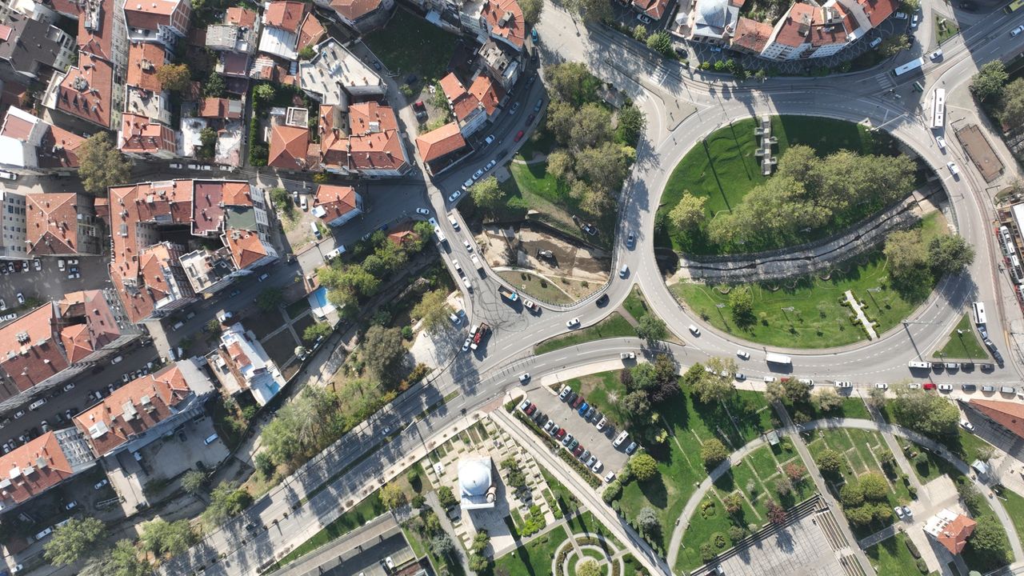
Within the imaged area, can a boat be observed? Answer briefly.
No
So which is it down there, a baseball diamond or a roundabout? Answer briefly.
roundabout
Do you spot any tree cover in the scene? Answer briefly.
Yes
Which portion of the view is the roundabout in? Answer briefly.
right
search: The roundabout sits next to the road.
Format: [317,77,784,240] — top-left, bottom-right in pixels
[620,80,989,388]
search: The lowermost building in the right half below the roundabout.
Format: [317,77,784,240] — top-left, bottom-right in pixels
[915,504,976,555]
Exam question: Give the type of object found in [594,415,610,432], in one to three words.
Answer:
vehicle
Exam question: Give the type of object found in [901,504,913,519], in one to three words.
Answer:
vehicle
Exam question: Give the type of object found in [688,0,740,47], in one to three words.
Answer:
building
